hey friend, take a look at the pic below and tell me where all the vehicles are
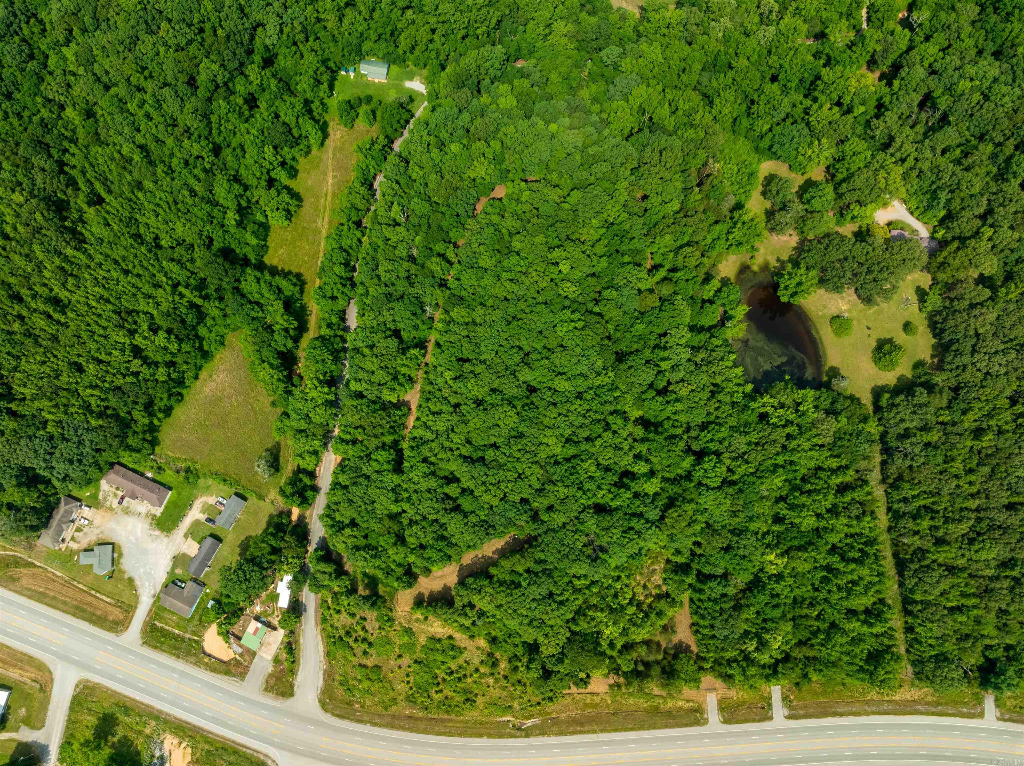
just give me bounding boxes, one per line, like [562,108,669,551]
[215,503,225,509]
[118,495,126,505]
[175,579,185,587]
[259,617,269,625]
[217,496,227,503]
[206,517,216,524]
[81,505,92,511]
[78,517,89,525]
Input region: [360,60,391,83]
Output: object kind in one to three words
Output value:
house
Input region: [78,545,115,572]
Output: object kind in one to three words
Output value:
house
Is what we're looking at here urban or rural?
rural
